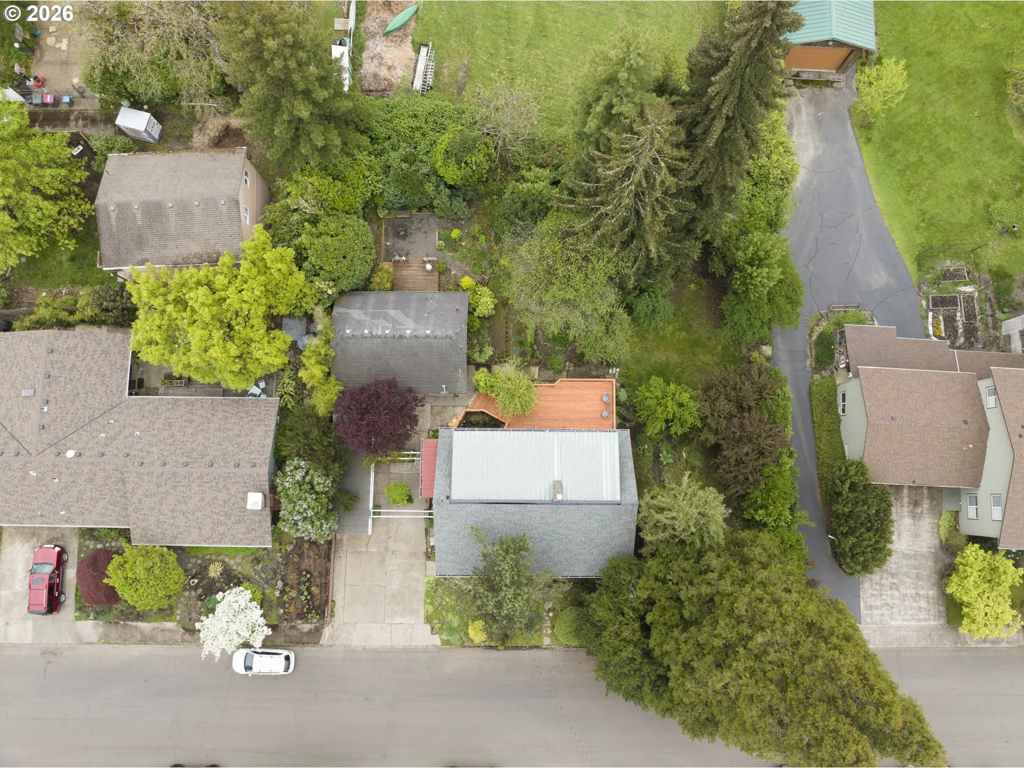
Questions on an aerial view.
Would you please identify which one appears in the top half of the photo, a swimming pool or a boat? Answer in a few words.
boat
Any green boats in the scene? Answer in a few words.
Yes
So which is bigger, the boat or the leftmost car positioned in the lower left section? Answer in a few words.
the car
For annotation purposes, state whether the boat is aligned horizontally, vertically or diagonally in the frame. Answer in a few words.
diagonally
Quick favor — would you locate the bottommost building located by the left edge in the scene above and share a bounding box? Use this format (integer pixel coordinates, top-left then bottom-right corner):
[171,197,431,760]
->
[0,328,296,549]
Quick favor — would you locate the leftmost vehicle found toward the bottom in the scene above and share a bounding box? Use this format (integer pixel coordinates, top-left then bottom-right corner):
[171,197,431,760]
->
[26,544,68,614]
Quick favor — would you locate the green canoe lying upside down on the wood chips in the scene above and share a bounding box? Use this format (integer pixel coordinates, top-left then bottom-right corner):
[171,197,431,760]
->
[382,4,419,37]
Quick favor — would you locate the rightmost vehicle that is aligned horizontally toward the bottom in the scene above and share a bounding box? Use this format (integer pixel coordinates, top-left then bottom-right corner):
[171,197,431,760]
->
[232,647,297,678]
